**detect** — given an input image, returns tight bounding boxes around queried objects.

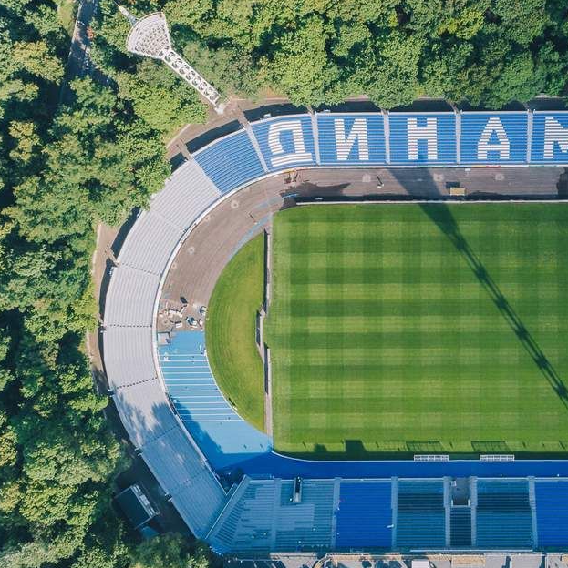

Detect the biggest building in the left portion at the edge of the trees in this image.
[110,483,164,537]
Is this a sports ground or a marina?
sports ground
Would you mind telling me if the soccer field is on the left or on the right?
right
